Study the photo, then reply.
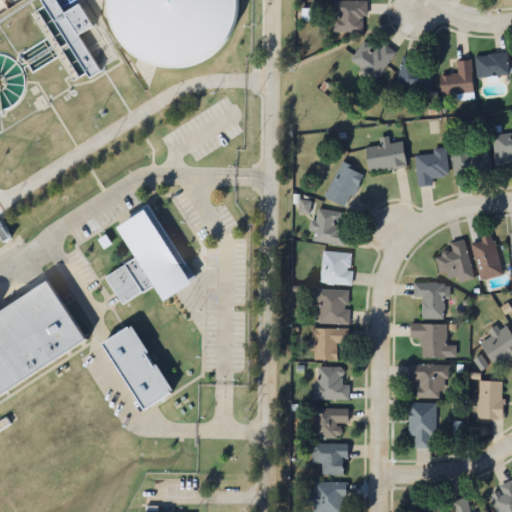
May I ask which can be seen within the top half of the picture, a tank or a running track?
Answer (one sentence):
Looking within the top half of the picture, you will find a tank.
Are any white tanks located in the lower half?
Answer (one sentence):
No, there's no white tank to be seen in the lower half.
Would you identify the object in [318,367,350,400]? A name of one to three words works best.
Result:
house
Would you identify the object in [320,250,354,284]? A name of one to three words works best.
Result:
house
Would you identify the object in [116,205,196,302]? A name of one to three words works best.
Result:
building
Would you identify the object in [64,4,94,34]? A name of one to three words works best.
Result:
building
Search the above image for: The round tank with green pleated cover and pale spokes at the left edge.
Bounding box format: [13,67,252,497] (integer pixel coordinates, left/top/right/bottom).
[0,54,30,110]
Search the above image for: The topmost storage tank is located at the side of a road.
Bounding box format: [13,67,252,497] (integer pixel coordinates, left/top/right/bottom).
[106,0,239,68]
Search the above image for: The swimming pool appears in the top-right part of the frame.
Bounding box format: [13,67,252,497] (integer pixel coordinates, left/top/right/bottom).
[482,84,508,97]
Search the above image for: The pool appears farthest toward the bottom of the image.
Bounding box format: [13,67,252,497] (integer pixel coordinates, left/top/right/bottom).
[488,276,510,289]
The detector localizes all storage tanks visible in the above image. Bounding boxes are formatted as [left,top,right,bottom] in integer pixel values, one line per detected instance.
[0,54,30,110]
[106,0,239,68]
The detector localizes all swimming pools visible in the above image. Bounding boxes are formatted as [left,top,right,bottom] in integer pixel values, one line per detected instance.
[482,84,508,97]
[488,276,510,289]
